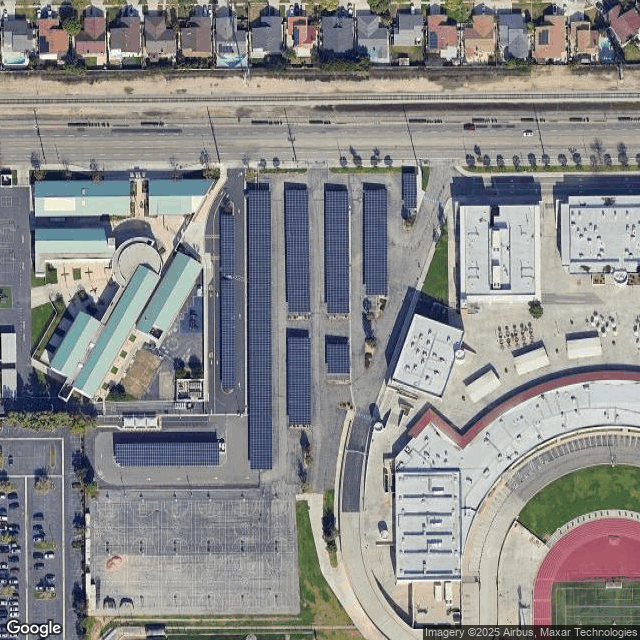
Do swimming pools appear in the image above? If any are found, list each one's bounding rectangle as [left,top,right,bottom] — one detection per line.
[600,38,612,64]
[5,54,26,63]
[215,52,244,67]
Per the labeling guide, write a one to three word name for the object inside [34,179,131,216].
building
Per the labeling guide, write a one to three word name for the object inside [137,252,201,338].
building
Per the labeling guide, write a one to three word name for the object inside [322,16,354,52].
house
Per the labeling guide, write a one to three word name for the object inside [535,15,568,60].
house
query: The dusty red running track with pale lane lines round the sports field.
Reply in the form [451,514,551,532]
[533,517,640,640]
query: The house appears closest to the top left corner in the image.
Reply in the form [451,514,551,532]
[3,19,34,53]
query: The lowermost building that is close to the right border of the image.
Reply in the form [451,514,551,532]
[396,371,640,591]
